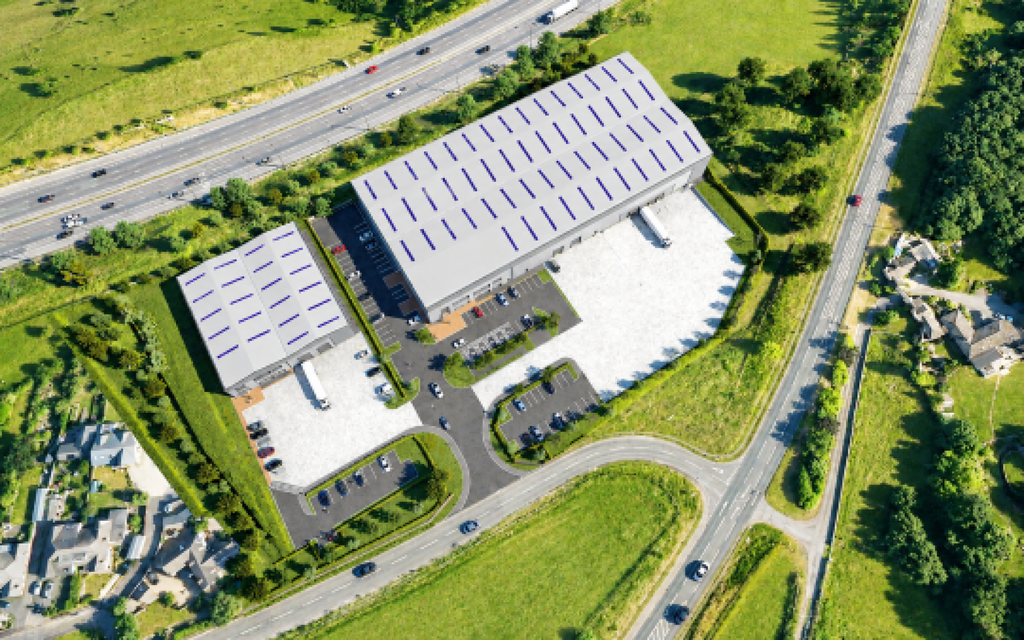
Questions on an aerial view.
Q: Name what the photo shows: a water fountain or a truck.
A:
truck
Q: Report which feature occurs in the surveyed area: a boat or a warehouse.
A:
warehouse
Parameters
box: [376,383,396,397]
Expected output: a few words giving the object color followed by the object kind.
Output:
white car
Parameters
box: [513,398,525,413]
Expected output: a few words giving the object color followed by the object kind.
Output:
blue vehicle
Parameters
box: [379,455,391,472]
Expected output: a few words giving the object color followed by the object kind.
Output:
white vehicle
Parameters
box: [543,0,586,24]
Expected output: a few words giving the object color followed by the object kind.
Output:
white truck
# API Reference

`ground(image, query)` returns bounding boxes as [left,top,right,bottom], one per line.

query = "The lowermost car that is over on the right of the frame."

[670,601,690,627]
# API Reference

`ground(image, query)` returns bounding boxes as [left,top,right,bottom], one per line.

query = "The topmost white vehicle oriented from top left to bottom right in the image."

[640,200,674,248]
